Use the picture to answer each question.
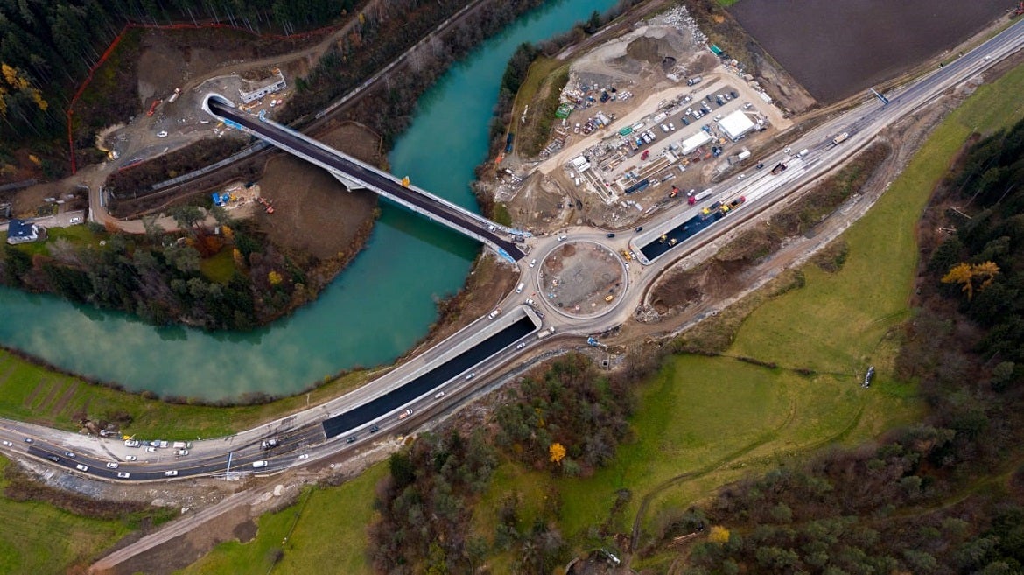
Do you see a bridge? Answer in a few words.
Yes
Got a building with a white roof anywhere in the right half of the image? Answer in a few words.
Yes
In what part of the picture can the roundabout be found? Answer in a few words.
center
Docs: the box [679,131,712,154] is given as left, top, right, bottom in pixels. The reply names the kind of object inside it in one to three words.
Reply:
building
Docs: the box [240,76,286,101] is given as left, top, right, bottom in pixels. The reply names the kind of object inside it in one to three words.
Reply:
building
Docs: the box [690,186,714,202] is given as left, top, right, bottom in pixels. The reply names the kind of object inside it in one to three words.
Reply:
vehicle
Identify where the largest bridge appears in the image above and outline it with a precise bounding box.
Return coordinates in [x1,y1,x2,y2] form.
[222,103,536,266]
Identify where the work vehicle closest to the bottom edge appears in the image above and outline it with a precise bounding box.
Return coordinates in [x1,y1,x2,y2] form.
[597,543,621,565]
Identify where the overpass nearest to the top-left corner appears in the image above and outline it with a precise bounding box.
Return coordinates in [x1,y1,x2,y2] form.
[85,172,108,220]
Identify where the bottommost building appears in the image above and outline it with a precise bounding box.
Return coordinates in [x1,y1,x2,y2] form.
[0,222,50,250]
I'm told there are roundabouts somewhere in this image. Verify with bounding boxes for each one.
[525,229,640,330]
